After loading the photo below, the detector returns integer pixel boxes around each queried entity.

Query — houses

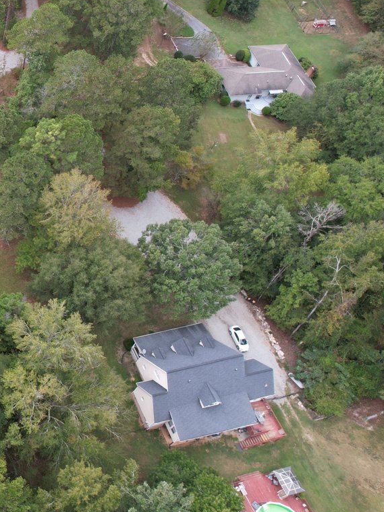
[219,44,328,115]
[130,322,279,445]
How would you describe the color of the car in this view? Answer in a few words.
white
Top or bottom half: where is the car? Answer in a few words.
bottom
